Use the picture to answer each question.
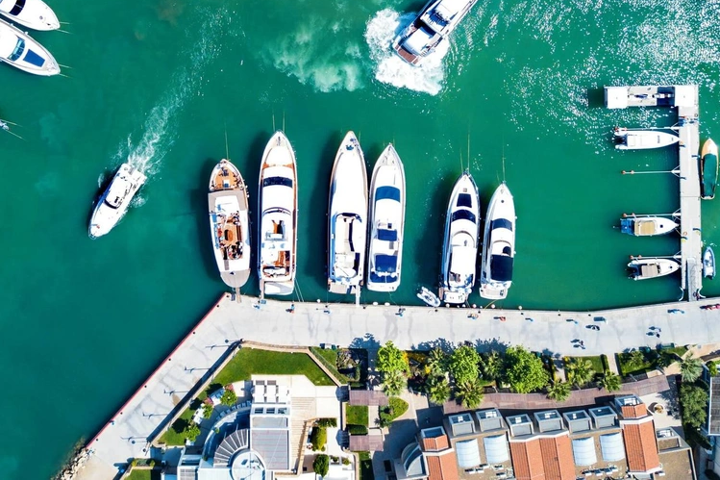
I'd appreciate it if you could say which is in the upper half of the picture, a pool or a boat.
boat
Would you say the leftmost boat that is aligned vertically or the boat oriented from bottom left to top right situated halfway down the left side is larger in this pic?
the leftmost boat that is aligned vertically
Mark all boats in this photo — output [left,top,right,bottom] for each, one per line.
[392,0,480,69]
[323,112,368,328]
[625,257,680,278]
[704,247,716,281]
[0,20,69,76]
[367,132,405,302]
[259,110,301,315]
[92,164,146,237]
[612,130,684,148]
[0,0,68,31]
[418,286,439,306]
[438,126,480,305]
[614,215,679,236]
[700,140,719,197]
[209,135,253,305]
[478,145,518,302]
